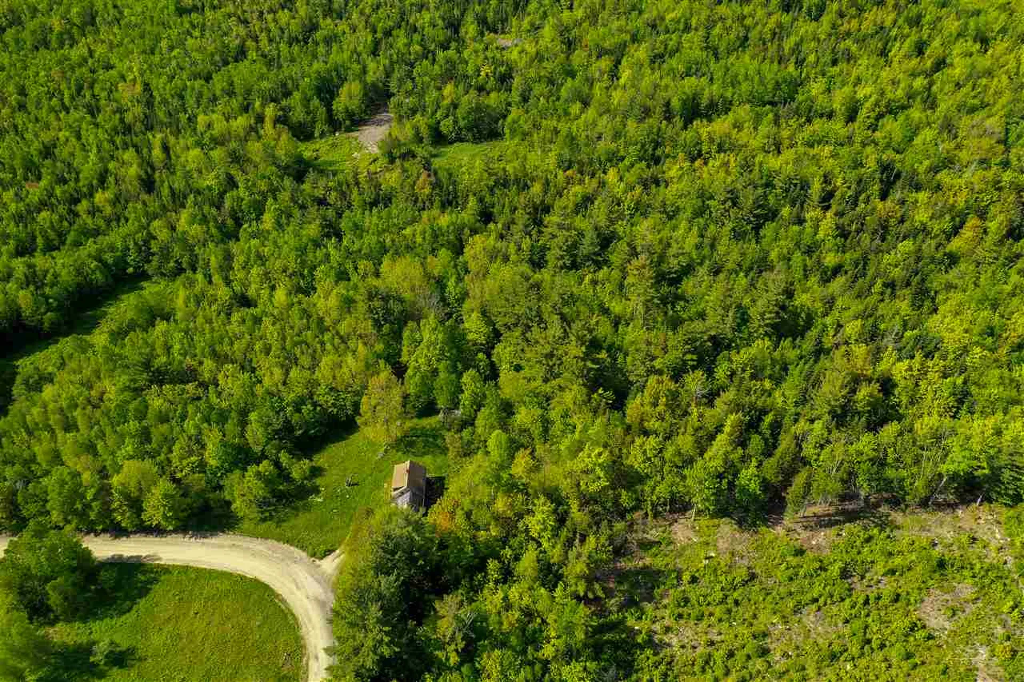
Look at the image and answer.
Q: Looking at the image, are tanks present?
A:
No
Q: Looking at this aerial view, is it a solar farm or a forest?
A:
forest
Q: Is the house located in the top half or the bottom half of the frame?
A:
bottom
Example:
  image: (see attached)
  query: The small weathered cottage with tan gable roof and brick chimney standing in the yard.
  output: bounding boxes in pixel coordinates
[391,460,427,519]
